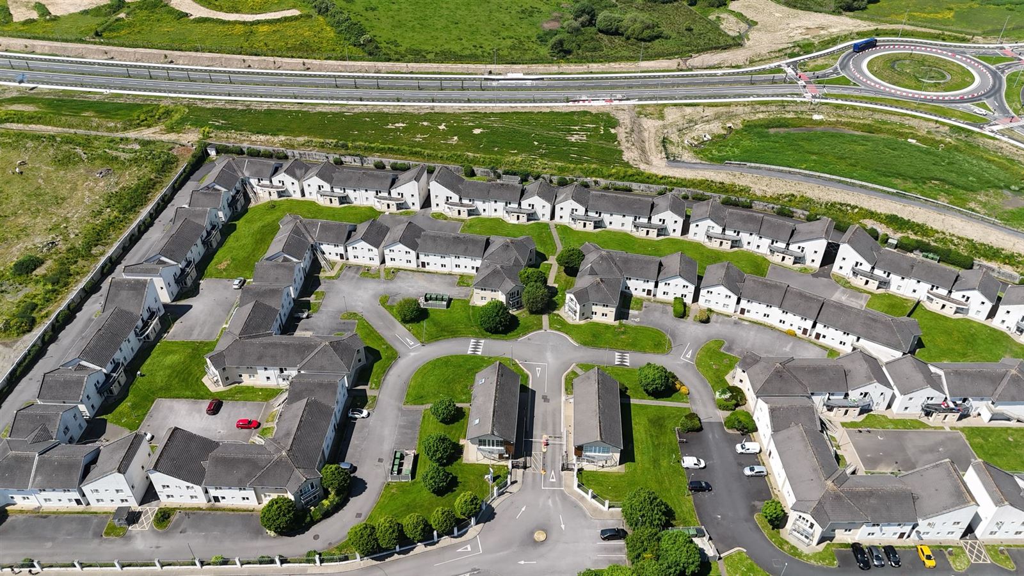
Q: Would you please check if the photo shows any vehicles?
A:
Yes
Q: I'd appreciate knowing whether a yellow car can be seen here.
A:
Yes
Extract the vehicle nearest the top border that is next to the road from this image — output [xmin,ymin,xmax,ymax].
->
[854,36,879,50]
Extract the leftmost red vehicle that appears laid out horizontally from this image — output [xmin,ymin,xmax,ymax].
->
[234,416,260,428]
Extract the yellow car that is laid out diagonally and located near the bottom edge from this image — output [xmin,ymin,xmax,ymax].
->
[915,542,938,569]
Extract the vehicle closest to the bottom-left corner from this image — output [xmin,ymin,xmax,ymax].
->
[142,431,154,448]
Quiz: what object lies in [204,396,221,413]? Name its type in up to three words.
car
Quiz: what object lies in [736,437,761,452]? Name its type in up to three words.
vehicle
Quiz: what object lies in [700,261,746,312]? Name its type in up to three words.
house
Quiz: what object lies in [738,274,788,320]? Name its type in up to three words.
house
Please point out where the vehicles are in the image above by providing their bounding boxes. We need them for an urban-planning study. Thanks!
[850,542,872,569]
[681,453,706,468]
[915,542,938,569]
[882,543,902,567]
[854,36,879,50]
[332,458,356,476]
[744,464,768,476]
[346,405,370,417]
[234,416,260,428]
[736,437,761,452]
[142,431,154,448]
[866,543,886,567]
[687,479,713,492]
[204,396,221,413]
[600,526,627,540]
